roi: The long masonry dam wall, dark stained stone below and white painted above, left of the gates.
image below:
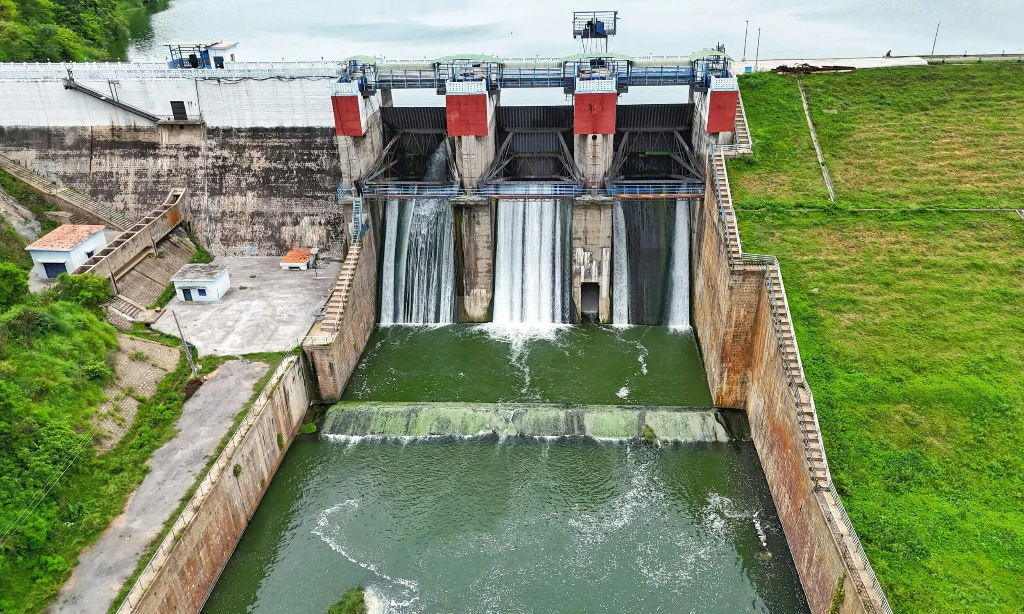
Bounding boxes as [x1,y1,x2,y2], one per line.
[0,76,346,259]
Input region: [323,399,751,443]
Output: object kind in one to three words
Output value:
dam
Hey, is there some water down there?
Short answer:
Yes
